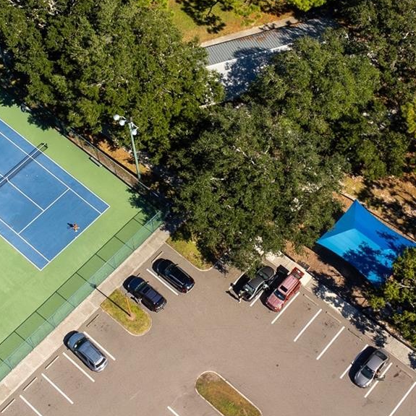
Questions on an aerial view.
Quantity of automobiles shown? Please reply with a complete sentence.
The picture shows 6 automobiles.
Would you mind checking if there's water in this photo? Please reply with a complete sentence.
No, water can't be seen anywhere here.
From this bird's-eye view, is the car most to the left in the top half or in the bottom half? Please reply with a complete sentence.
It is in the bottom half that the car most to the left appears.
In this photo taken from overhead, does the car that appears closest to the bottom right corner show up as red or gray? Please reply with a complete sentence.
The car that appears closest to the bottom right corner looks gray in the image.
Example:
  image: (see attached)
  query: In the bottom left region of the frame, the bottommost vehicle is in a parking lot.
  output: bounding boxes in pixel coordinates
[69,335,109,373]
